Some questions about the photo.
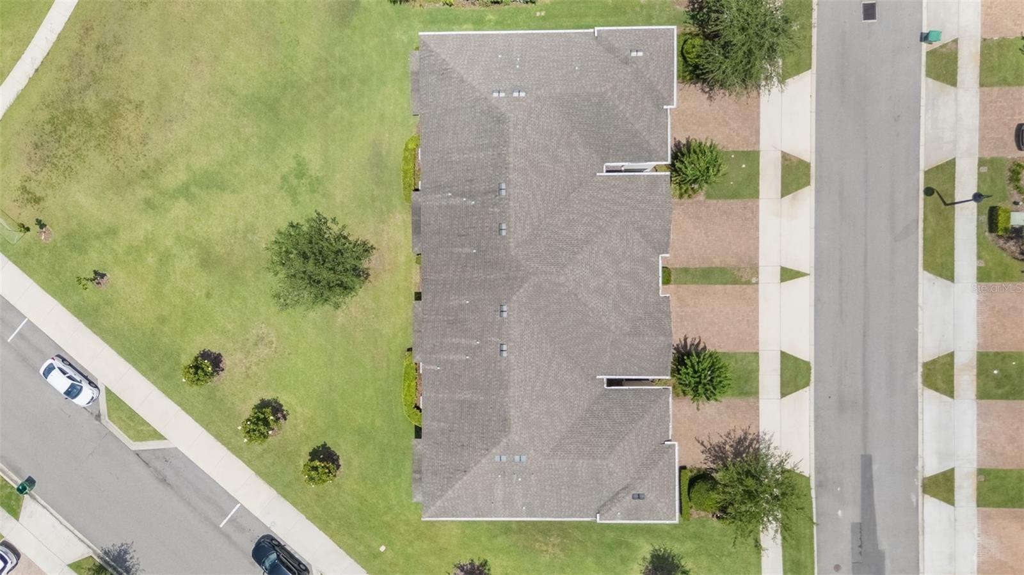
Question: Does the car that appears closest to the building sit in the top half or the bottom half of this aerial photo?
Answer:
bottom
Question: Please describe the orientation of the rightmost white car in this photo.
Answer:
diagonally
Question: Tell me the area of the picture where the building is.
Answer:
center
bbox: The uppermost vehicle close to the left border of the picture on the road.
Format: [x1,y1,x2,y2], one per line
[38,354,102,408]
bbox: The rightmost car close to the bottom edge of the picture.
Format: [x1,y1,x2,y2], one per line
[252,534,313,575]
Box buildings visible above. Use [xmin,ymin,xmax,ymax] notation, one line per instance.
[410,26,679,524]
